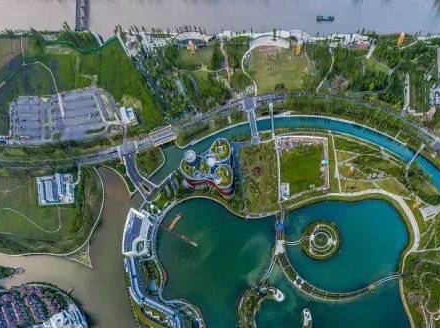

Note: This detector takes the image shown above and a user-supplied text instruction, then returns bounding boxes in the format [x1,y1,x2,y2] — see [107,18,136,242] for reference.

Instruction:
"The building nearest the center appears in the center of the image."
[181,138,236,193]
